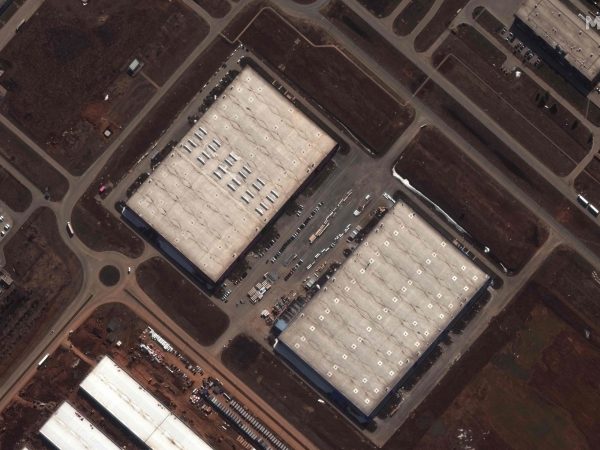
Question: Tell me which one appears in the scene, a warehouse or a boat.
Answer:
warehouse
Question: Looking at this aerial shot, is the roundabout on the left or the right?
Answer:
left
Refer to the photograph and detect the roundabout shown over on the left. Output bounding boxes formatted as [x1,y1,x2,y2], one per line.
[84,251,135,301]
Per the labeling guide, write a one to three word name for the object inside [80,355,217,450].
shed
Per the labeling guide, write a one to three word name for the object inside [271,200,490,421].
warehouse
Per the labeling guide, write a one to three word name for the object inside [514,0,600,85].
building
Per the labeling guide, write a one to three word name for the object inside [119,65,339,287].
warehouse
